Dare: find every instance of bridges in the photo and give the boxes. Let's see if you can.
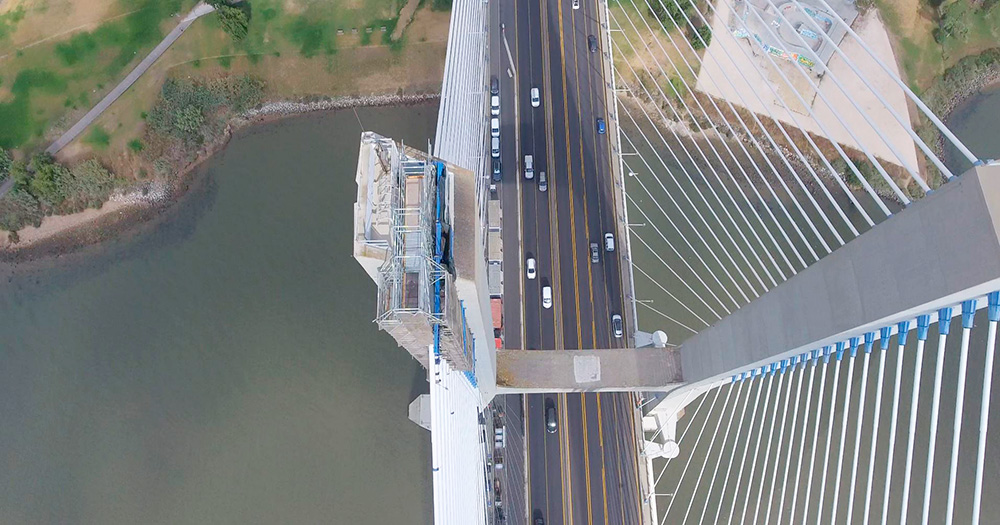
[349,0,1000,525]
